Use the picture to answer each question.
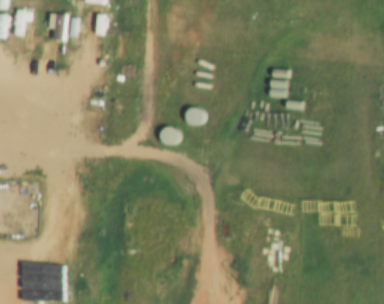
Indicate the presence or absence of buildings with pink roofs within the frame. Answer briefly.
No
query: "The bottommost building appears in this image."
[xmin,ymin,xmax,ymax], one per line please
[22,288,68,304]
